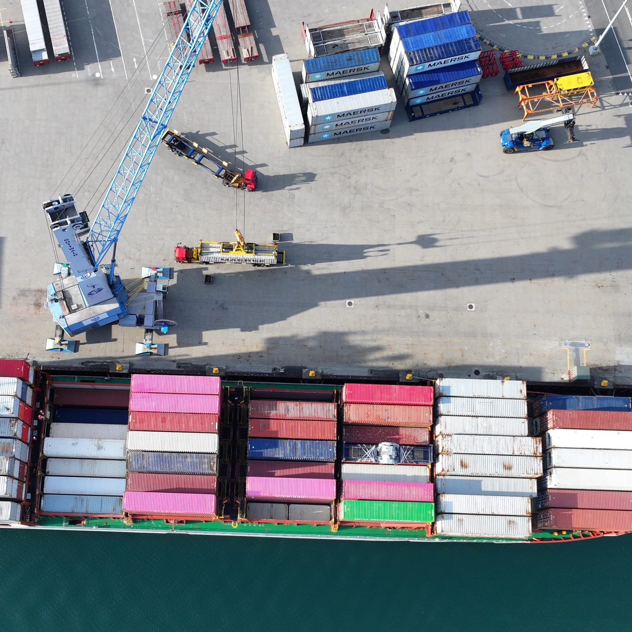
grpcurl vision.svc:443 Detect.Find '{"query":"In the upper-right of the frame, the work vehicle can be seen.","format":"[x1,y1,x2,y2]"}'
[502,108,579,155]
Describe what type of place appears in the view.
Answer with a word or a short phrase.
port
